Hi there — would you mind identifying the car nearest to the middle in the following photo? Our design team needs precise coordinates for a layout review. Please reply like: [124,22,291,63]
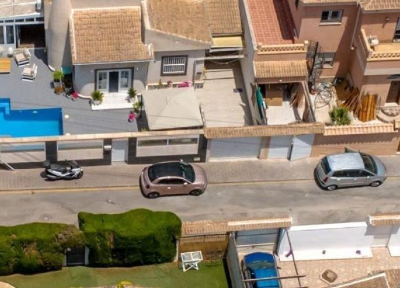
[139,156,210,199]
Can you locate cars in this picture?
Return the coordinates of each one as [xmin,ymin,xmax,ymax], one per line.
[314,149,391,191]
[243,248,288,288]
[139,156,210,199]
